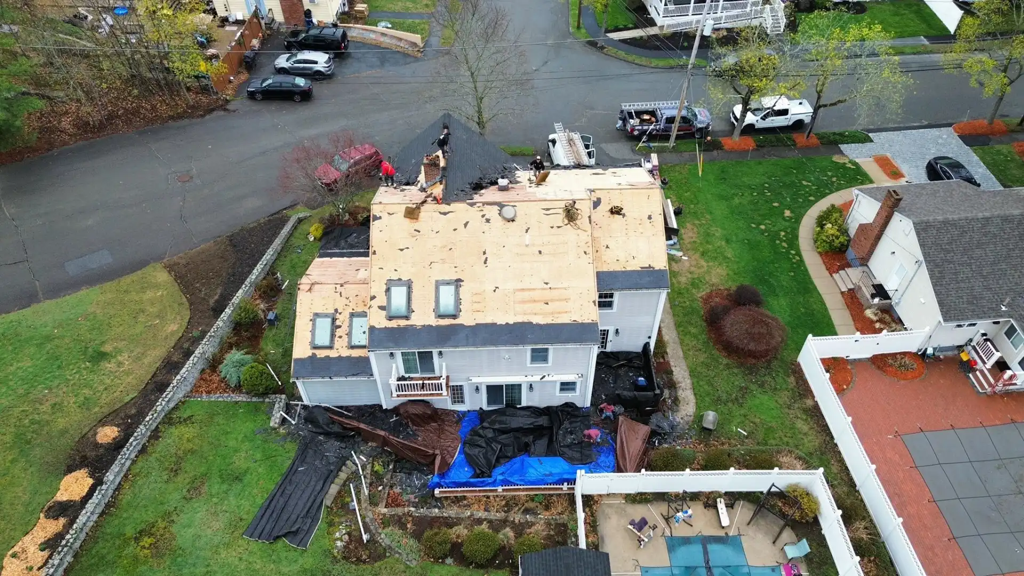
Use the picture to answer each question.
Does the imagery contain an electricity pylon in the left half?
No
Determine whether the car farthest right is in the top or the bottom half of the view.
top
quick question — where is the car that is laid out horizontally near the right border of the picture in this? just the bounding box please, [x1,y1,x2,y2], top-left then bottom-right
[919,152,995,181]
